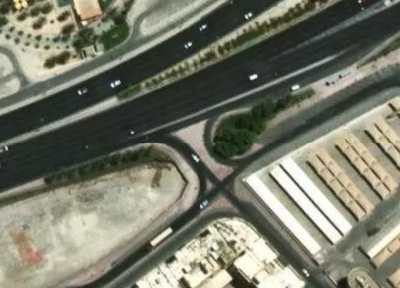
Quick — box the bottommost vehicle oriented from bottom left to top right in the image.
[149,227,174,247]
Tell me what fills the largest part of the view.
paved ground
